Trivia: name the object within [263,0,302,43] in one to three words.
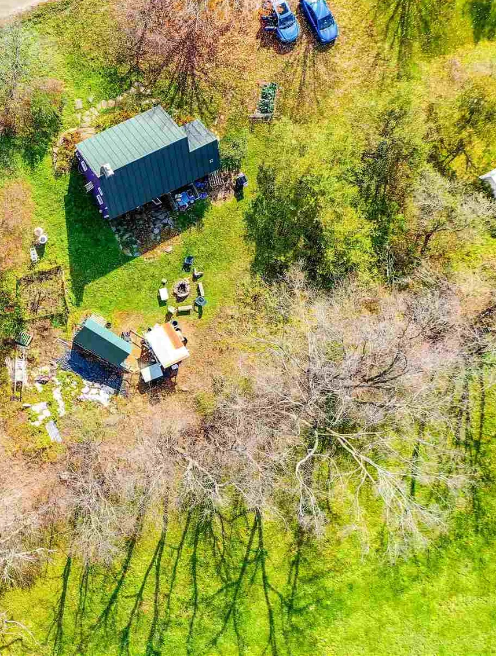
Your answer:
car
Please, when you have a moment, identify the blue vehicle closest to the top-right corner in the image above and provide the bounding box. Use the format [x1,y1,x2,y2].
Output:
[303,0,339,46]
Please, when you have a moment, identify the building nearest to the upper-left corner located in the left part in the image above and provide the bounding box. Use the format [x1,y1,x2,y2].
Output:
[75,106,220,219]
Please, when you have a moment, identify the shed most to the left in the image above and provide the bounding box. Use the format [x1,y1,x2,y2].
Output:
[67,320,135,379]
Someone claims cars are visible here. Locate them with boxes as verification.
[303,0,339,46]
[263,0,302,43]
